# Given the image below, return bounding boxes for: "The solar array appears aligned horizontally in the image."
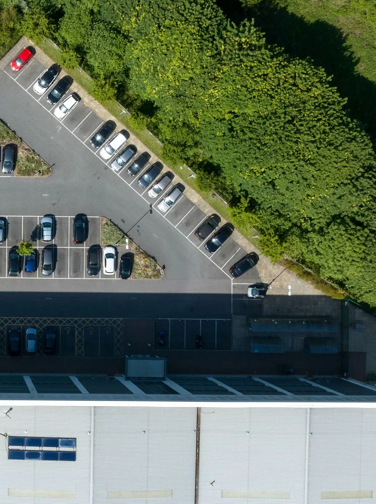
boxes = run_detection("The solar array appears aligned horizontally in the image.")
[8,436,77,463]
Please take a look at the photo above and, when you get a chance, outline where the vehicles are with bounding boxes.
[205,223,235,252]
[194,214,221,241]
[41,217,54,243]
[24,252,36,274]
[127,150,152,176]
[47,75,74,105]
[86,247,100,275]
[7,248,21,276]
[73,217,85,244]
[111,144,137,171]
[157,185,185,213]
[0,219,6,244]
[147,173,173,199]
[102,246,116,275]
[25,328,36,353]
[229,252,259,278]
[118,256,132,279]
[137,161,164,189]
[90,119,117,148]
[41,248,54,276]
[54,91,81,119]
[2,146,14,174]
[9,46,35,73]
[101,129,130,160]
[33,63,61,94]
[246,285,266,298]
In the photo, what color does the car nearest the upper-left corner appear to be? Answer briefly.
red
